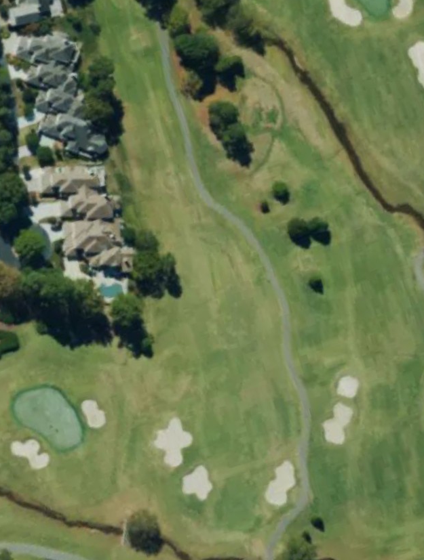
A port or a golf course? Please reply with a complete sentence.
The picture captures a golf course.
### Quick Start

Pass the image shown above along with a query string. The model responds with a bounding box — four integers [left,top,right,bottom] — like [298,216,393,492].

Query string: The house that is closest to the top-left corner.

[6,0,47,32]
